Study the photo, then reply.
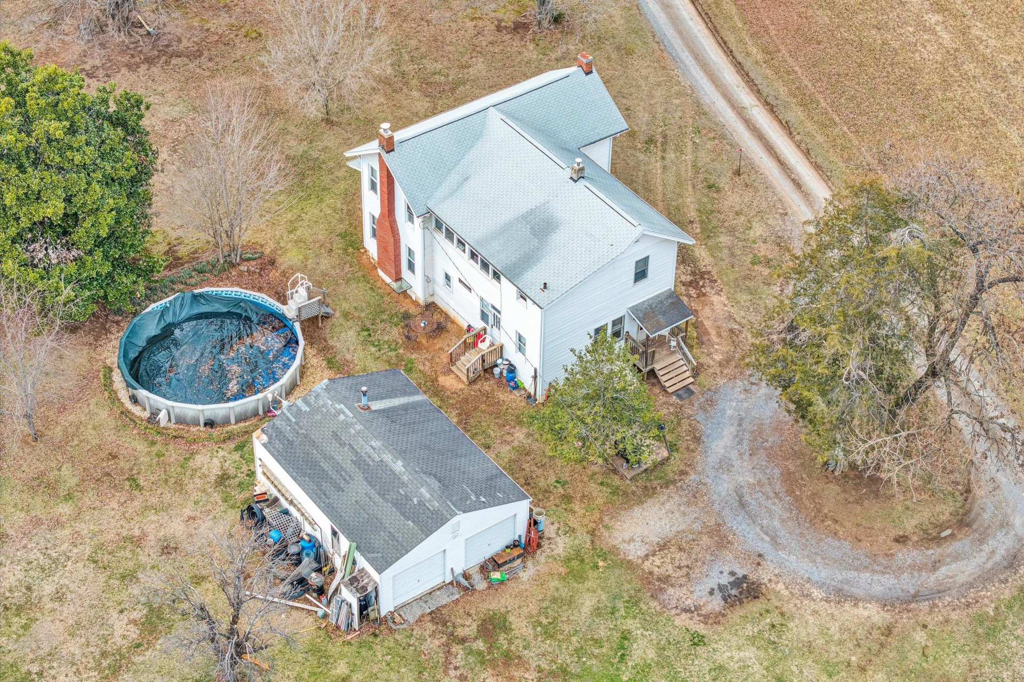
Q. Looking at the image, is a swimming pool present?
Yes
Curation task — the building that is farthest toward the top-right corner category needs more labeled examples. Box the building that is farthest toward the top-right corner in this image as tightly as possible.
[349,54,699,405]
